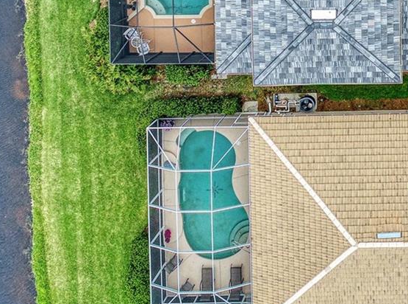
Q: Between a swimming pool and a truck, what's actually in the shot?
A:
swimming pool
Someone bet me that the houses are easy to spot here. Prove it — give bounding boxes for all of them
[211,0,408,89]
[246,111,408,304]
